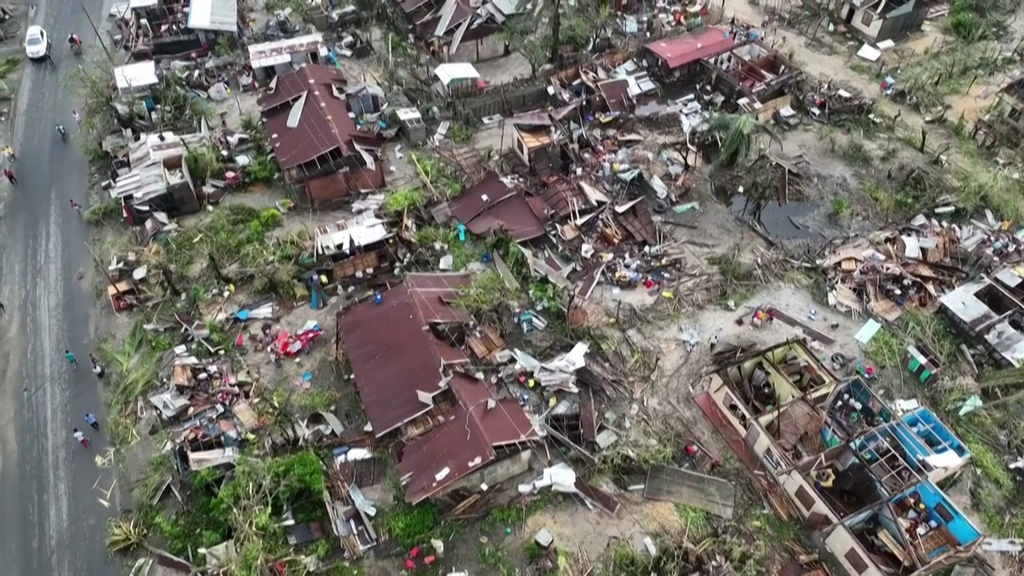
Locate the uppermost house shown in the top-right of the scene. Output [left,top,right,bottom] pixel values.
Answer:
[830,0,926,47]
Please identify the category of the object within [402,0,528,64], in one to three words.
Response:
house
